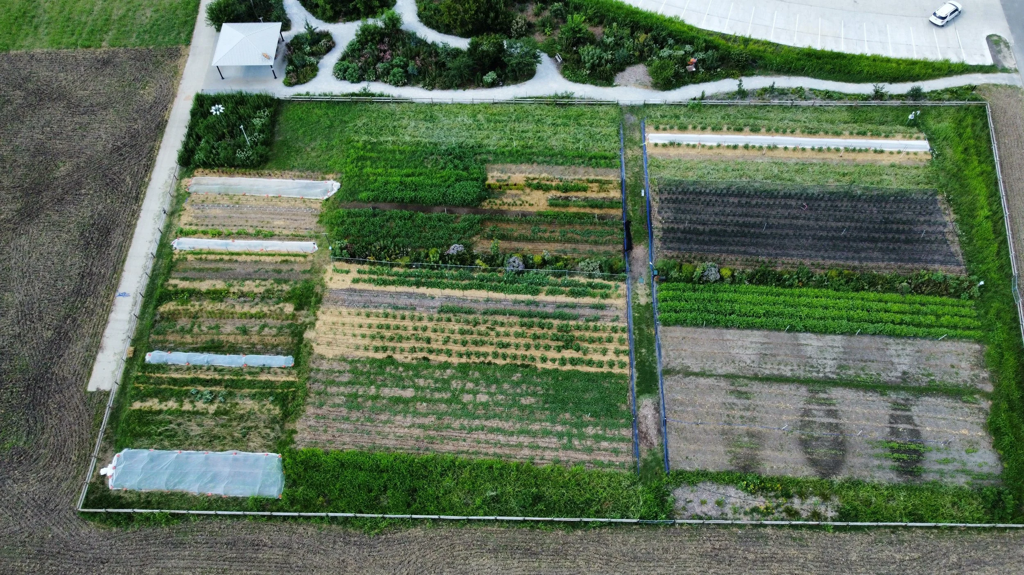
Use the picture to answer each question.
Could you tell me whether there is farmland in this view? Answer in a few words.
Yes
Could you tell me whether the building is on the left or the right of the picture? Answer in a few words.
left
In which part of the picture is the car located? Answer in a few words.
top right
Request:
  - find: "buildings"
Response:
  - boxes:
[209,21,286,79]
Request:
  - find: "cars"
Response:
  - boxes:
[932,0,964,25]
